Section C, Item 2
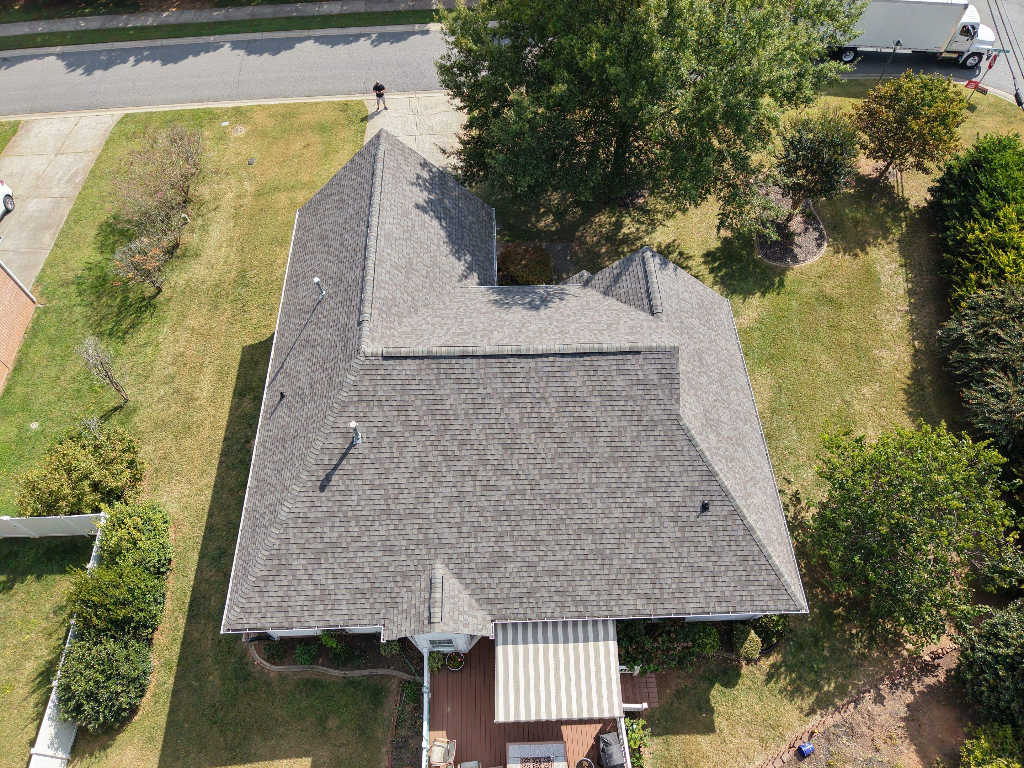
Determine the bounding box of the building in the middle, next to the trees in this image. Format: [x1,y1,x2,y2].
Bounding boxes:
[223,130,807,657]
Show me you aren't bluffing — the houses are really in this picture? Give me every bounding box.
[223,130,807,657]
[0,259,37,392]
